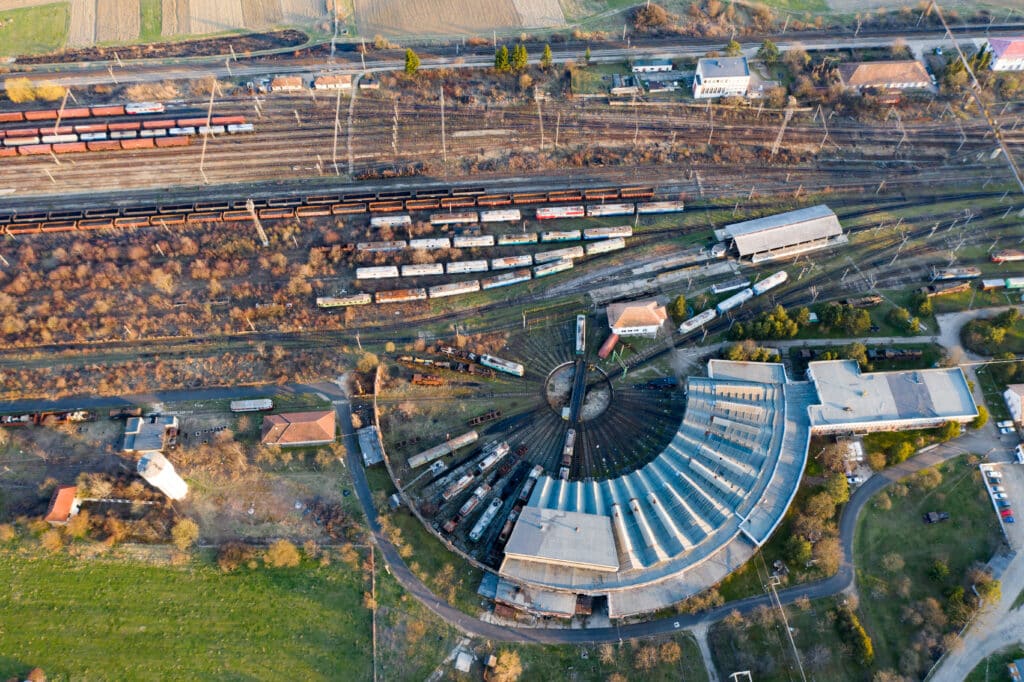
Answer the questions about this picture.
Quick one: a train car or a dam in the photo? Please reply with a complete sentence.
This aerial view contains a train car.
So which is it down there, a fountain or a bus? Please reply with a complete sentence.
Of the two, only a bus appears.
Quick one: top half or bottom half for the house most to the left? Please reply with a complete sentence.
It is in the bottom half that the house most to the left appears.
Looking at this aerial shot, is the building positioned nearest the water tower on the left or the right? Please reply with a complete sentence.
You can find the building positioned nearest the water tower on the left side of the picture.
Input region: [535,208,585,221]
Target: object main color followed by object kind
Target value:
white rail car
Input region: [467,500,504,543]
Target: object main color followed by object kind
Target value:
blue rail car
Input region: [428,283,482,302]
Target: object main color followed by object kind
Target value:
white rail car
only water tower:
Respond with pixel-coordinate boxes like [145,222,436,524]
[134,445,191,503]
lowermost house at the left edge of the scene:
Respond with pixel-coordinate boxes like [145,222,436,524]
[45,487,80,527]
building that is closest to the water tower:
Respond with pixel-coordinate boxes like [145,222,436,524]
[124,417,183,456]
